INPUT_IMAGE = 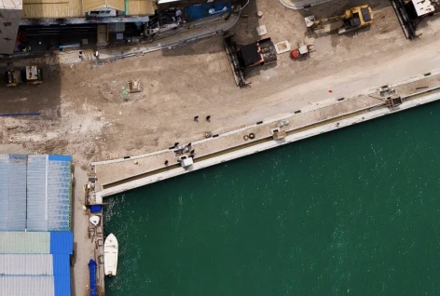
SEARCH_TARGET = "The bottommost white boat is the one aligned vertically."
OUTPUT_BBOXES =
[104,234,119,279]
